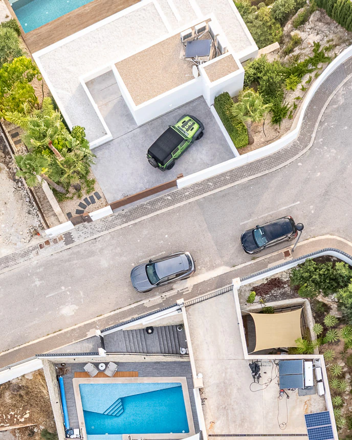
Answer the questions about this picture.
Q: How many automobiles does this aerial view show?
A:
3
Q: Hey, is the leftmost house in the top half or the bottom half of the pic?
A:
top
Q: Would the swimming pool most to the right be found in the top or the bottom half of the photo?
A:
bottom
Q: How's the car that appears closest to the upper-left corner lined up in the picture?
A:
at an angle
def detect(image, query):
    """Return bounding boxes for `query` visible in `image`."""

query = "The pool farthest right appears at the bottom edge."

[73,378,194,440]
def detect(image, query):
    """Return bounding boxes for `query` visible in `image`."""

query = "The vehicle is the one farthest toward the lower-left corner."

[130,249,197,293]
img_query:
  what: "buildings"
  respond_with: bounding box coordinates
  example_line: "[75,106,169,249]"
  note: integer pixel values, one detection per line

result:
[33,0,258,156]
[183,287,340,440]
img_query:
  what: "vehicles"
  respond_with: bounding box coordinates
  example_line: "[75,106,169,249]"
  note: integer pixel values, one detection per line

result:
[130,249,197,293]
[145,111,206,174]
[238,214,301,255]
